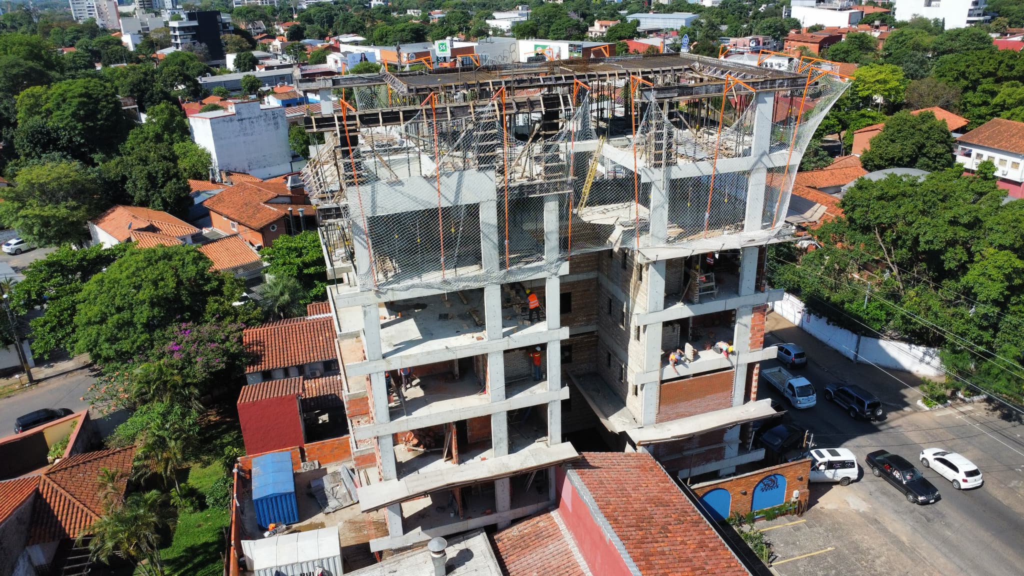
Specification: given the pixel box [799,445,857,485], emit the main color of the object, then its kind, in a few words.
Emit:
white van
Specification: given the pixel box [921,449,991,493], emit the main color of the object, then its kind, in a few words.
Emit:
white car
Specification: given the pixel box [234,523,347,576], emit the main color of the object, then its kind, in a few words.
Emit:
white shipping container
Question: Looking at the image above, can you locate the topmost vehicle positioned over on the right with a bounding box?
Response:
[773,341,810,369]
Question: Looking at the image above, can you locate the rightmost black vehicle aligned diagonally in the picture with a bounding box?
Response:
[867,454,946,509]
